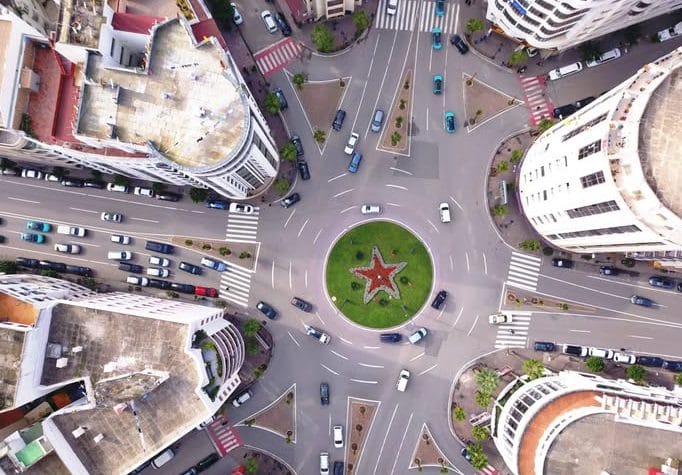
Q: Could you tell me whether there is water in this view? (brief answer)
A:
No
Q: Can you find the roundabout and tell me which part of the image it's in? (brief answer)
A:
center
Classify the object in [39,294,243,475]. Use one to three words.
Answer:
building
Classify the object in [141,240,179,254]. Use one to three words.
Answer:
vehicle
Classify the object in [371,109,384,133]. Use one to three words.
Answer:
vehicle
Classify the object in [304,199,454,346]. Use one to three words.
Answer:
roundabout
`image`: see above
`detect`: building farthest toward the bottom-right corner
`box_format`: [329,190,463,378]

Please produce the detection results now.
[497,374,682,475]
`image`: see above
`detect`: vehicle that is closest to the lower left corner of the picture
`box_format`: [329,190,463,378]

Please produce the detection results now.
[152,448,175,469]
